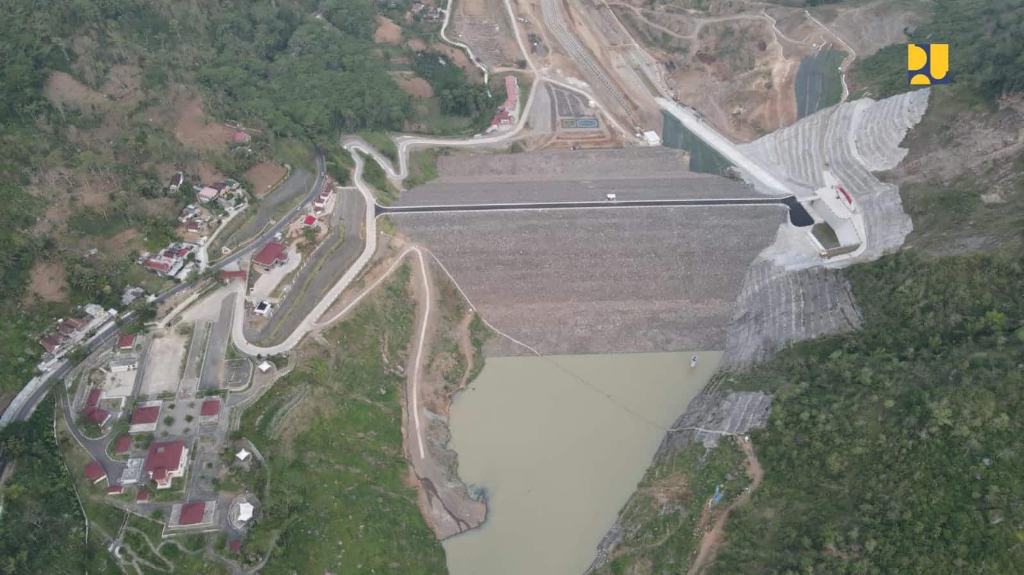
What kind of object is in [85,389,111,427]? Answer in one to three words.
building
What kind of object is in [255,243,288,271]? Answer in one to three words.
house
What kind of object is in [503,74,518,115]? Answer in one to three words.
house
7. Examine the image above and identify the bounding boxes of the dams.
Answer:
[375,147,812,357]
